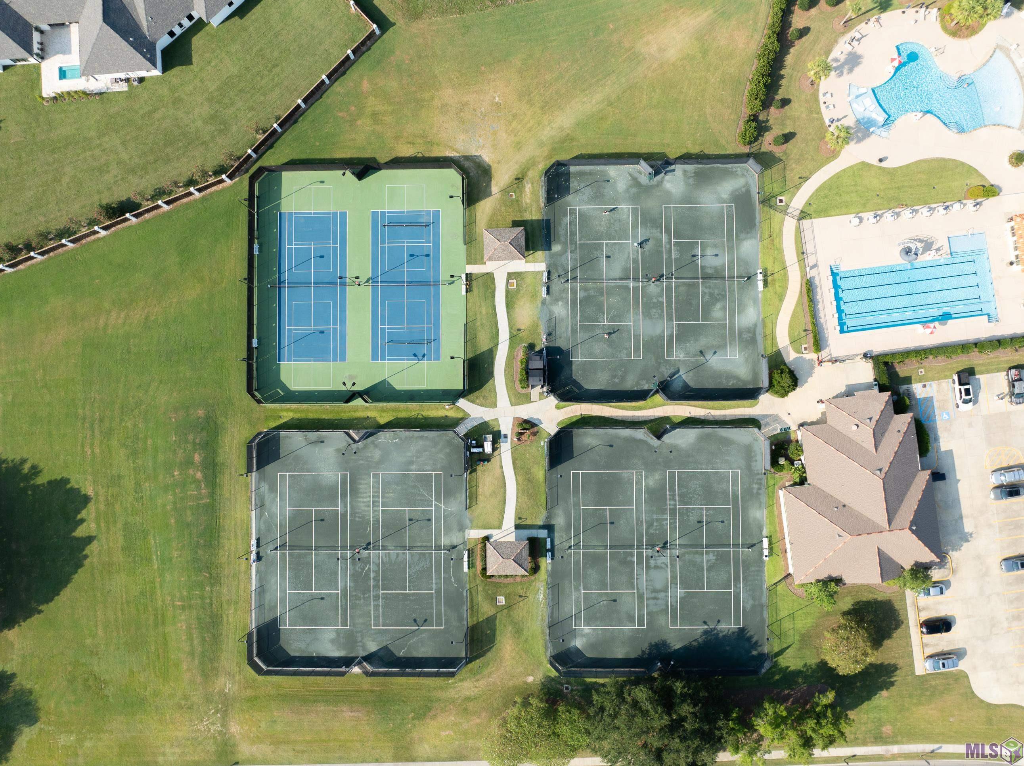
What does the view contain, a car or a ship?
car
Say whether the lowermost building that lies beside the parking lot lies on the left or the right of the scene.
right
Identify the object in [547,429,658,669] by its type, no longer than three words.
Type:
tennis court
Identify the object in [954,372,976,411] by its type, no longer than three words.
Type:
vehicle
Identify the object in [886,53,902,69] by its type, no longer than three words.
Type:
umbrella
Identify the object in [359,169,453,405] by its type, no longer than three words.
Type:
tennis court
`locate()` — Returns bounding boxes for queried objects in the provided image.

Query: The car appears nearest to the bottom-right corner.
[926,656,962,674]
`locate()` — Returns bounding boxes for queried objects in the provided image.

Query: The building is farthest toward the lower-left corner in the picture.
[486,539,529,576]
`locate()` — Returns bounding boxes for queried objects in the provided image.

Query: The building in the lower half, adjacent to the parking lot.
[778,390,942,585]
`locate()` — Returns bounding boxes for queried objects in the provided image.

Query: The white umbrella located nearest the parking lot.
[919,322,936,336]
